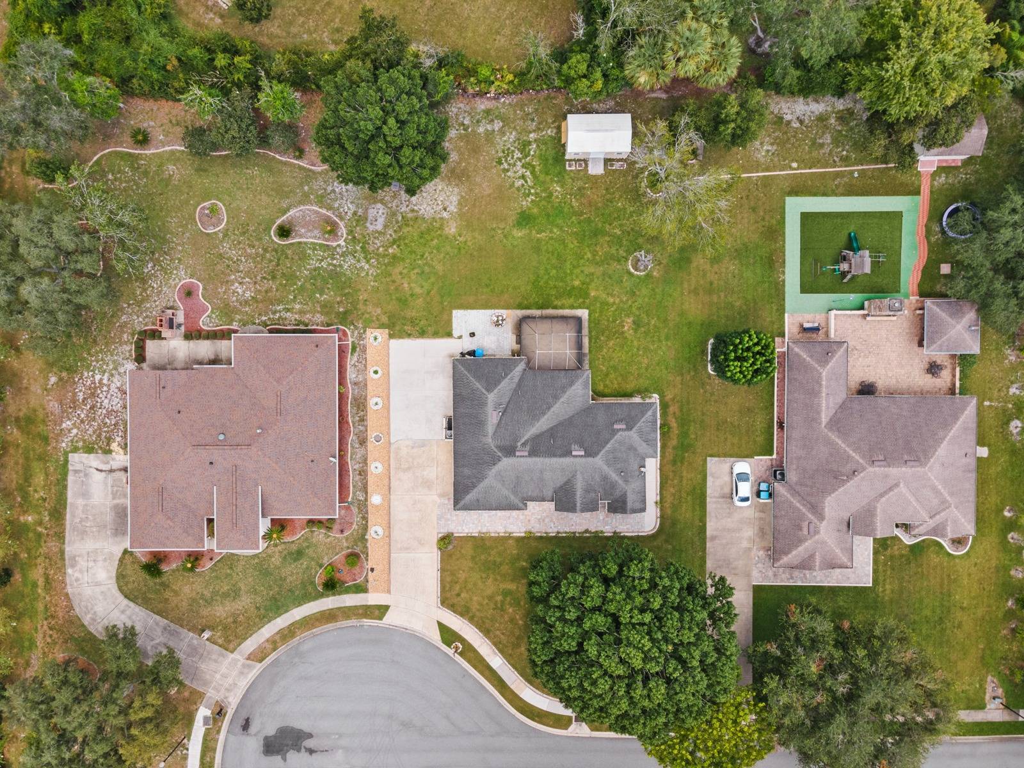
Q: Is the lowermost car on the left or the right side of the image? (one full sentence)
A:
The lowermost car is on the right side of the image.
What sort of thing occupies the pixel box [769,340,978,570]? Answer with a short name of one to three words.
house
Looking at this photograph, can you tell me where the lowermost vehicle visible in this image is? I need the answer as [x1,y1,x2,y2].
[733,462,755,509]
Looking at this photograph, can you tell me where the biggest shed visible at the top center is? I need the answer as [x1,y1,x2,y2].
[565,114,632,174]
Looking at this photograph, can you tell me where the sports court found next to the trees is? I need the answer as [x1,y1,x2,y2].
[785,196,920,314]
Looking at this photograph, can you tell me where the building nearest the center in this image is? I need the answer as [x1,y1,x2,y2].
[452,356,659,514]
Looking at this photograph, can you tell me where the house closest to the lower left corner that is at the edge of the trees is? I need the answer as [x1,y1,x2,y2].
[128,334,339,552]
